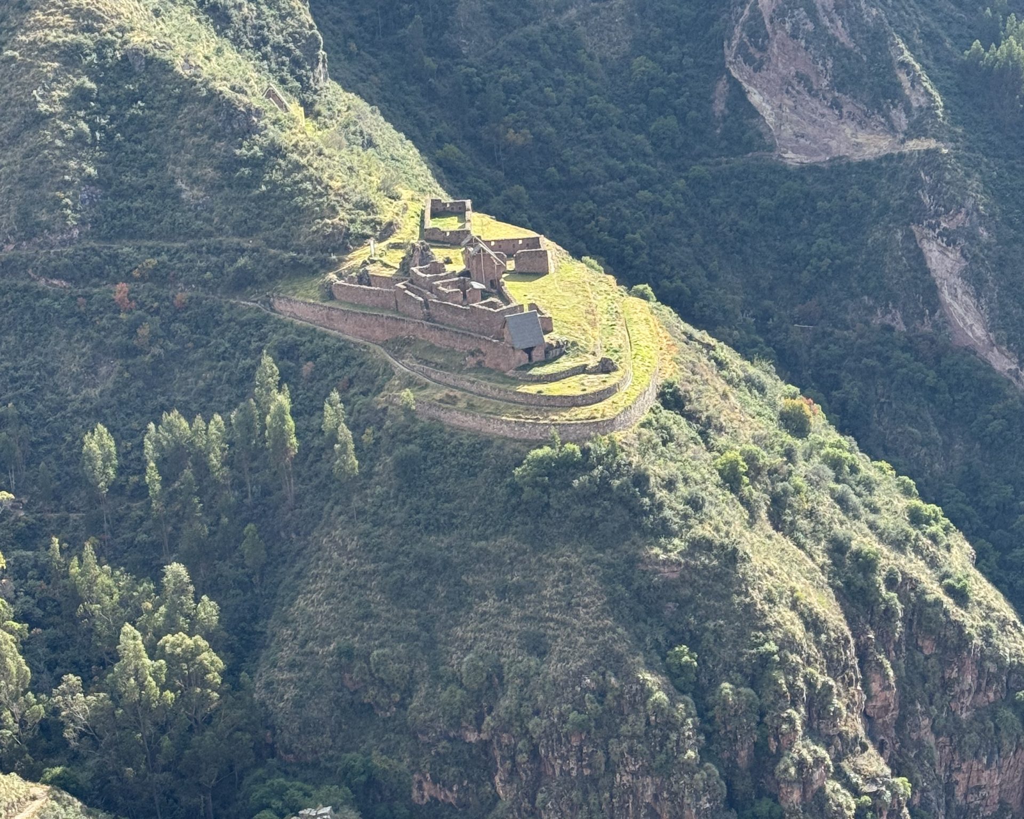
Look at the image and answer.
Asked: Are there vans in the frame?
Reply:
No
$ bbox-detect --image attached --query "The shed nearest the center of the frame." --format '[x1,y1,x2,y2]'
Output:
[505,309,549,373]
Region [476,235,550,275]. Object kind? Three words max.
building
